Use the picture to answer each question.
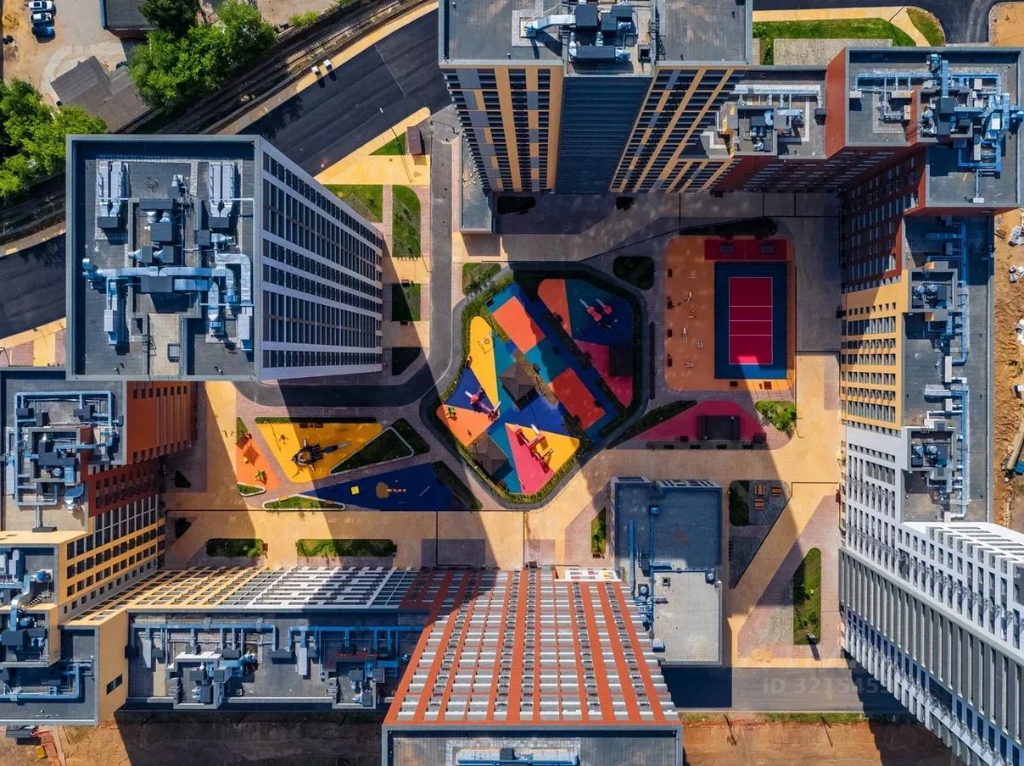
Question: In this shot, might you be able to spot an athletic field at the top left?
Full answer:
No, there is no athletic field at the top left.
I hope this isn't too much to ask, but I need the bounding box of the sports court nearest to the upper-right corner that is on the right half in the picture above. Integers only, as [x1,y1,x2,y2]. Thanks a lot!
[705,239,786,259]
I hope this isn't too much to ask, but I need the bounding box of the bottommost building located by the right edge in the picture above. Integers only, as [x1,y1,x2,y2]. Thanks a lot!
[835,494,1024,766]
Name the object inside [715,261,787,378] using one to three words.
sports court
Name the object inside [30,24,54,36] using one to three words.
vehicle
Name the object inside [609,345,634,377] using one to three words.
gazebo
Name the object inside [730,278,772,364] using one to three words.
sports court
